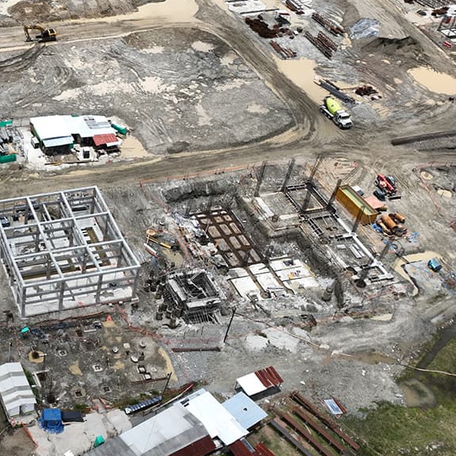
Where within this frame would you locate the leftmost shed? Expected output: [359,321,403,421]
[0,360,43,424]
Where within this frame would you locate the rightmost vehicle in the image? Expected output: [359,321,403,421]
[374,173,408,198]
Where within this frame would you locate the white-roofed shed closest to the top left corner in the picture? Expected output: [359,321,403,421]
[30,115,122,158]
